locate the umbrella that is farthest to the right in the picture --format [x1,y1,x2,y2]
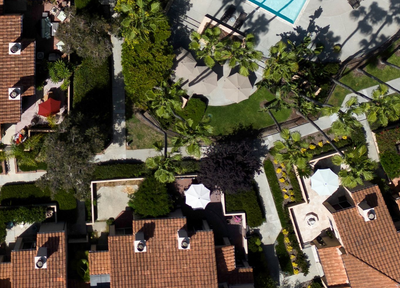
[311,167,339,195]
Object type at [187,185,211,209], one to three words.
umbrella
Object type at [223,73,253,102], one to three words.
umbrella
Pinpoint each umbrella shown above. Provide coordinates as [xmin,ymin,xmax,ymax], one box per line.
[311,167,339,195]
[170,49,197,75]
[187,185,211,209]
[223,73,253,102]
[188,66,217,95]
[42,95,59,116]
